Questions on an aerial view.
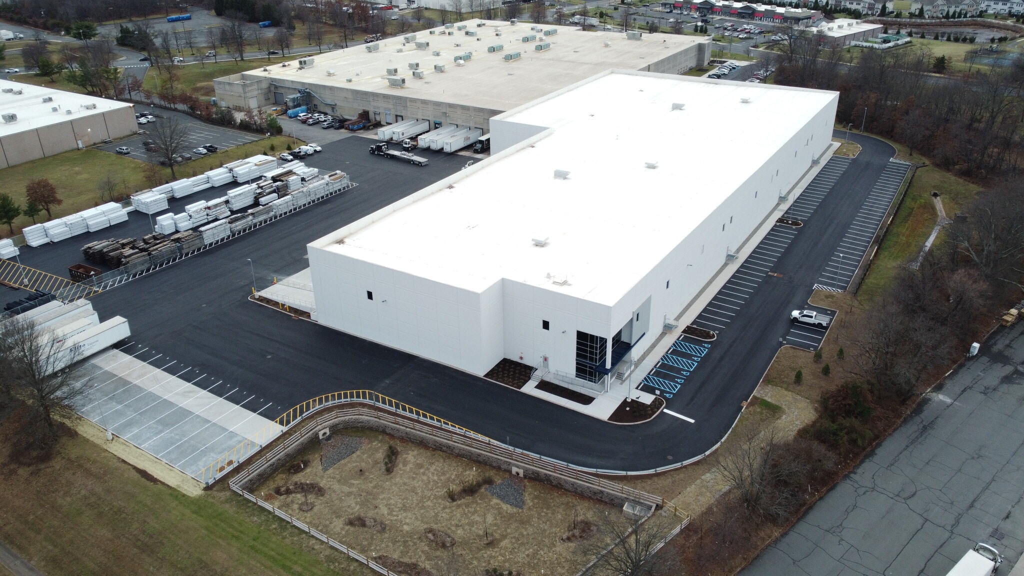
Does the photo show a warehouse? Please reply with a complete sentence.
Yes, you can see a warehouse in this photo.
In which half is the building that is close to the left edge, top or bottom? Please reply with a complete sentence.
You can find the building that is close to the left edge in the top half.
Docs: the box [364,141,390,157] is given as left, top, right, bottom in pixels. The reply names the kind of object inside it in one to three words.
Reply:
vehicle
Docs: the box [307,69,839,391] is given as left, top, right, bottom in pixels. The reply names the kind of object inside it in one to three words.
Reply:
warehouse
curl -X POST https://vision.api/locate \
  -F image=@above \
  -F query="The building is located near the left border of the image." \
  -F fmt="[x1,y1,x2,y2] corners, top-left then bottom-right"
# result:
[0,79,140,169]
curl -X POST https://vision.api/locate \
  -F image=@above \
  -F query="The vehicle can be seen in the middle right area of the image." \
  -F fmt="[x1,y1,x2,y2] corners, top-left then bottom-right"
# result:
[789,311,831,331]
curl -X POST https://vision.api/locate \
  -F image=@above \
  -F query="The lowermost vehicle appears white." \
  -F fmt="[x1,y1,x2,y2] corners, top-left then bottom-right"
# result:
[949,546,1001,576]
